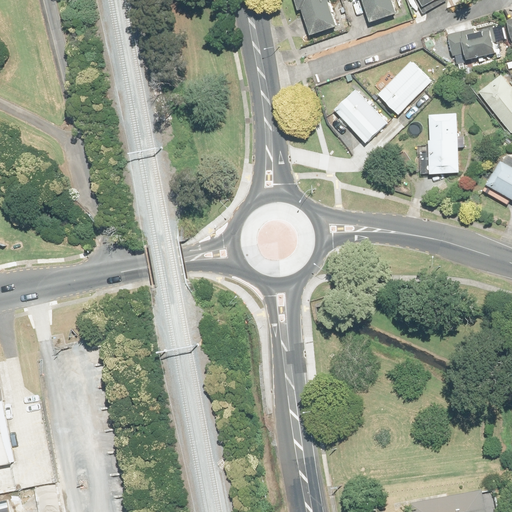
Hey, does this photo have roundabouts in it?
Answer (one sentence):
Yes, there's a roundabout here.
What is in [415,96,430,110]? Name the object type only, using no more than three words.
vehicle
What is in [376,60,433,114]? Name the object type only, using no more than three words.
house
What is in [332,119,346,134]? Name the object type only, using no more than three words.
car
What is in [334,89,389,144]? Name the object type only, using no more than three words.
house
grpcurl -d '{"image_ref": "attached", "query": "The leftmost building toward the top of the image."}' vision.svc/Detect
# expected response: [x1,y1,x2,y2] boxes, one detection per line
[294,0,334,34]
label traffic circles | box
[228,190,328,290]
